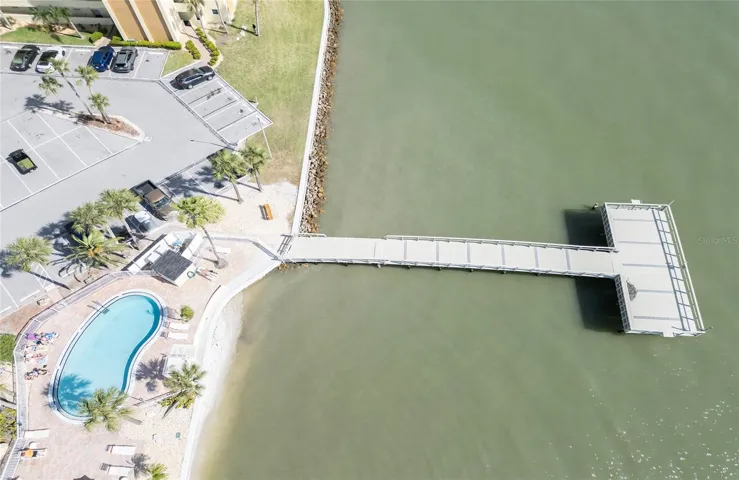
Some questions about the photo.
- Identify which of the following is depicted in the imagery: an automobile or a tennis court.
automobile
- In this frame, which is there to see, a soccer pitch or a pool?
pool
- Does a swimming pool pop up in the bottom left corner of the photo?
Yes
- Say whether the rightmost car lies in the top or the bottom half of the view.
top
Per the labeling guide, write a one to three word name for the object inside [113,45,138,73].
car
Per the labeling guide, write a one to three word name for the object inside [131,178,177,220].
truck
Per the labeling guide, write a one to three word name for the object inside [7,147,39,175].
truck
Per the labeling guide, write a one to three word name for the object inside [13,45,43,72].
car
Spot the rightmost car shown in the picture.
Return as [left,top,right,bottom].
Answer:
[172,67,214,90]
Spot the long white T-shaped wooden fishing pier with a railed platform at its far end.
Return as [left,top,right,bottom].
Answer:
[279,205,711,339]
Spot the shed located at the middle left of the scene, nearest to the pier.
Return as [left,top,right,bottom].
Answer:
[125,227,201,287]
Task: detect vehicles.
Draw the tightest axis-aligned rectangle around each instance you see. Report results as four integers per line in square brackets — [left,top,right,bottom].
[7,147,39,175]
[39,45,67,73]
[55,219,85,248]
[131,178,177,220]
[172,67,214,90]
[113,45,138,73]
[13,45,43,72]
[89,45,114,71]
[134,201,162,235]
